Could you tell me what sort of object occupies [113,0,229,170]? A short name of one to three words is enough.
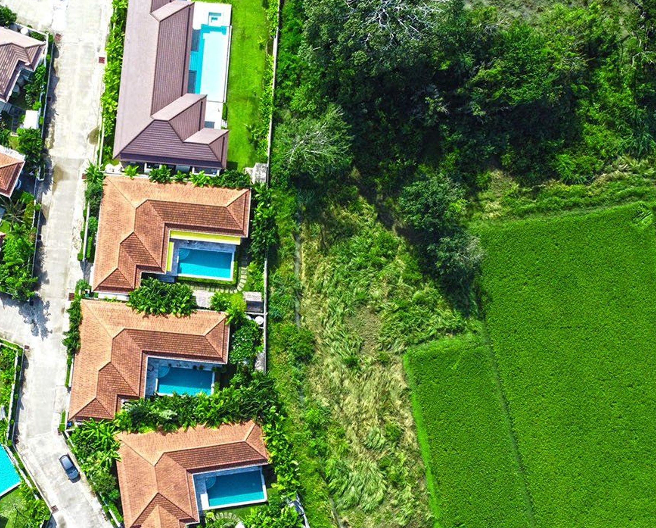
house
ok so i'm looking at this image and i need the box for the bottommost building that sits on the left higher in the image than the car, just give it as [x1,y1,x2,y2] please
[69,298,232,425]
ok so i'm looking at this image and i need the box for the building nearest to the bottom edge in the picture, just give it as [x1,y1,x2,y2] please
[114,415,270,528]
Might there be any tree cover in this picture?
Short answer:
Yes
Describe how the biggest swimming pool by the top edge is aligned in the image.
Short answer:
up and down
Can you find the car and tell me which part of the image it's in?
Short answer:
bottom left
